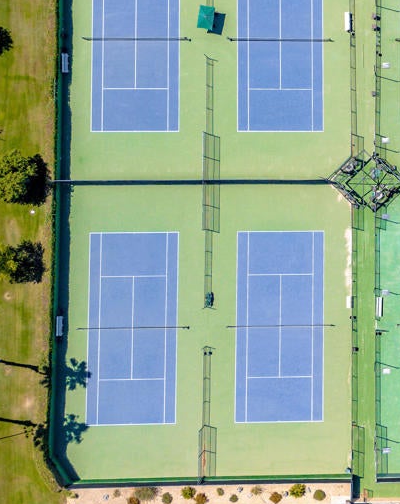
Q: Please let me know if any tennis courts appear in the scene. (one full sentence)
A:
Yes, this view includes a tennis court.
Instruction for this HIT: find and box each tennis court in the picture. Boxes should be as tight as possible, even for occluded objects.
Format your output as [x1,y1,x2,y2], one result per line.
[86,232,179,426]
[235,231,324,423]
[237,0,324,132]
[91,0,180,132]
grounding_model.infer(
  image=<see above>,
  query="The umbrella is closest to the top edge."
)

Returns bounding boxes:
[197,5,215,30]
